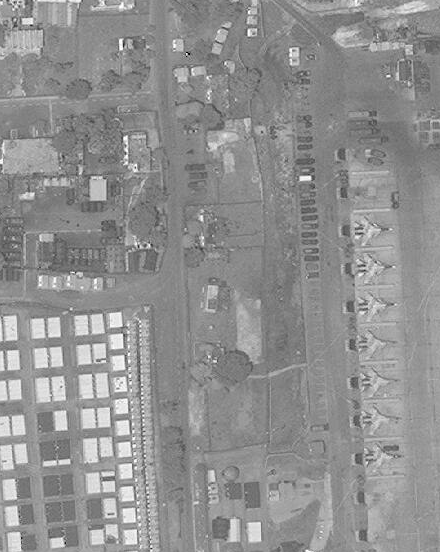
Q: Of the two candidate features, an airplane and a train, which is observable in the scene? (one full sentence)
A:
Visible in the photo is an airplane.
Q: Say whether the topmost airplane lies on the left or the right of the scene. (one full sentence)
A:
It is on the right.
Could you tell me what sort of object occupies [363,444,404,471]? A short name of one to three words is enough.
airplane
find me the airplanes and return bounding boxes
[355,291,396,319]
[363,444,404,471]
[357,329,397,357]
[361,406,401,434]
[352,216,392,244]
[359,367,399,395]
[354,254,393,282]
